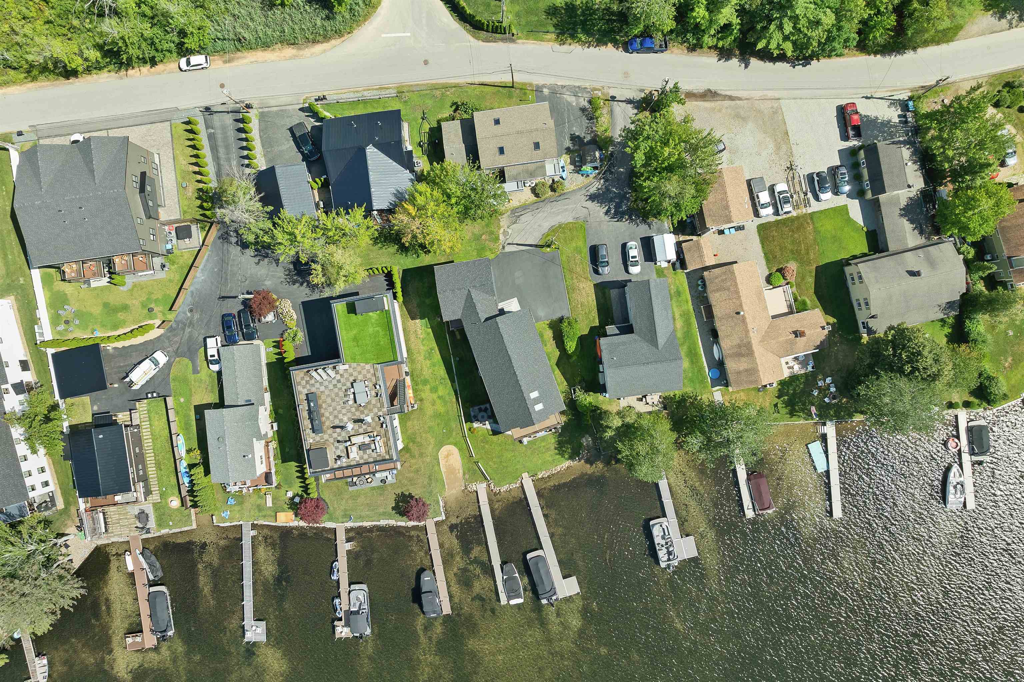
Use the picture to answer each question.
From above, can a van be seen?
Yes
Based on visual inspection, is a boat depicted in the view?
Yes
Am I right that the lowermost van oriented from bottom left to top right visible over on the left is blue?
No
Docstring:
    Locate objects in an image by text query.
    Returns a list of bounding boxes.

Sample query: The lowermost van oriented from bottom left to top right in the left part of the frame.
[118,349,171,390]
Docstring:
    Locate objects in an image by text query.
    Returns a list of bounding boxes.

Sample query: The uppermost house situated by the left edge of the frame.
[13,131,166,281]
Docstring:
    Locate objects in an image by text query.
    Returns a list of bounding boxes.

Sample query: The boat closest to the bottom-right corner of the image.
[946,463,967,511]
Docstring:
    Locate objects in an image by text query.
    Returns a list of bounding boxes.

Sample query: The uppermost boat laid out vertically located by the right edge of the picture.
[967,420,991,464]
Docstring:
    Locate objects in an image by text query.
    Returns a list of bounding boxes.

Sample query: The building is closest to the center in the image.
[434,257,566,442]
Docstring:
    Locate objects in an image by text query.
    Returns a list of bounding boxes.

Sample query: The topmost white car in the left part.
[178,53,212,72]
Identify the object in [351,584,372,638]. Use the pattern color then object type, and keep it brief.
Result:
gray boat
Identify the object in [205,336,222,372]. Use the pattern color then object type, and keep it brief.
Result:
white car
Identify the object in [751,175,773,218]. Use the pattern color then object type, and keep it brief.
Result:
white truck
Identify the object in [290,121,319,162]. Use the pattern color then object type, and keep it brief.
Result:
black truck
